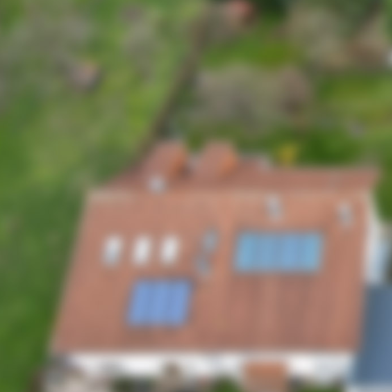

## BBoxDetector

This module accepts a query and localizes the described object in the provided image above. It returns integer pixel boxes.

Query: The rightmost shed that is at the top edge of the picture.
[223,0,258,30]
